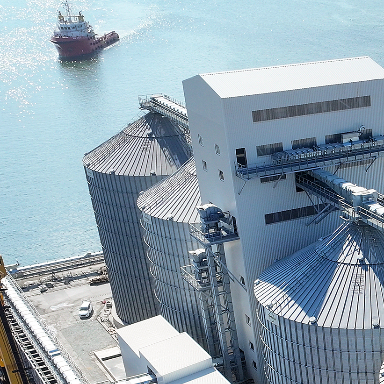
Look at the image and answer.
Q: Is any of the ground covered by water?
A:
Yes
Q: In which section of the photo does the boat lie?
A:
top left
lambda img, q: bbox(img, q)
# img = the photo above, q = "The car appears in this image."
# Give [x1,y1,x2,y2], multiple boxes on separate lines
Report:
[76,302,92,319]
